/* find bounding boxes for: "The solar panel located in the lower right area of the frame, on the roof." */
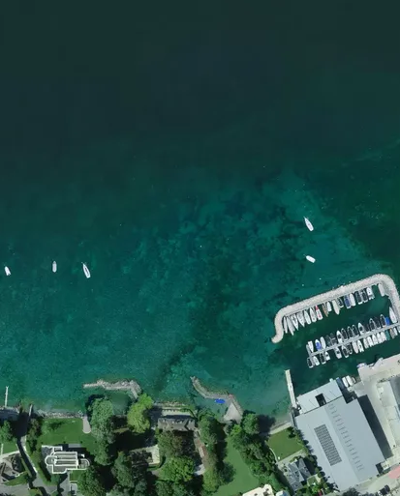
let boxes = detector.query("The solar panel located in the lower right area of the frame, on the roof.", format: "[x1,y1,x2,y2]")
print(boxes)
[315,424,342,465]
